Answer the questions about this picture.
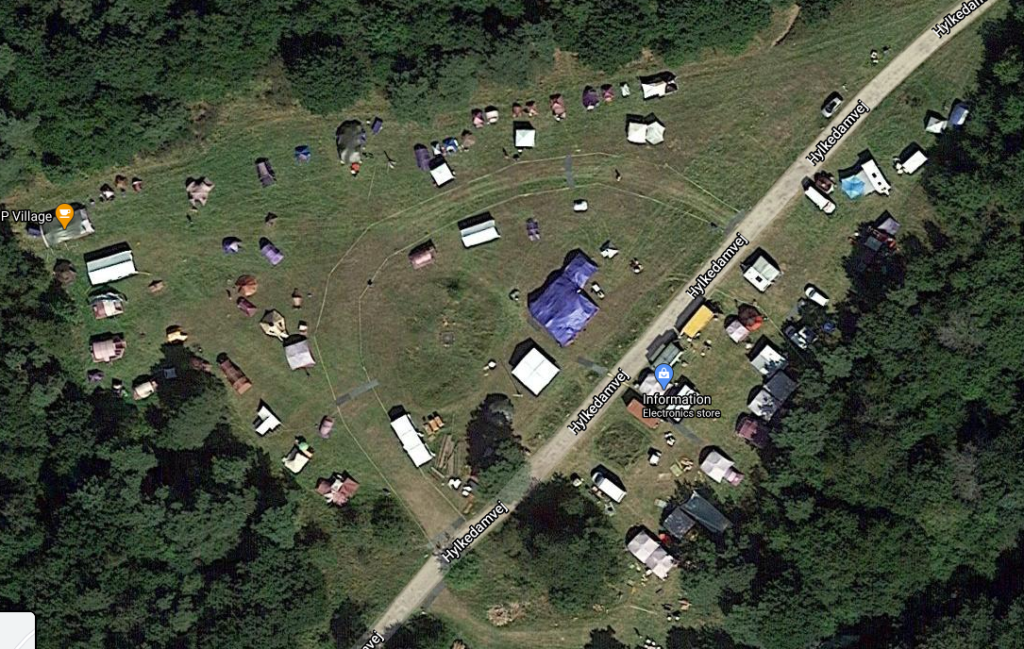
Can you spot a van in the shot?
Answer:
Yes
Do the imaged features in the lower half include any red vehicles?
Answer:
No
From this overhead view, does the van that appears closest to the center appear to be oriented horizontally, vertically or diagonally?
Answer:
diagonally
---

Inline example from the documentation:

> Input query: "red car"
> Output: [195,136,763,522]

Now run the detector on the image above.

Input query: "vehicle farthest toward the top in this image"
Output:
[822,91,843,117]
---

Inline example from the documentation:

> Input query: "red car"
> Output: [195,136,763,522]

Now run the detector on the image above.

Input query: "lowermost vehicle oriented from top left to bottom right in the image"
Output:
[590,468,628,503]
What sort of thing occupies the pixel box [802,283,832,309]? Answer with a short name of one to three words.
vehicle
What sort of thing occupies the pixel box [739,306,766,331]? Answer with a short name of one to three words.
tent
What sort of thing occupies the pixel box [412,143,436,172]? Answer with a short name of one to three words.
tent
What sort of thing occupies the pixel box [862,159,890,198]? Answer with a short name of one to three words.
camper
